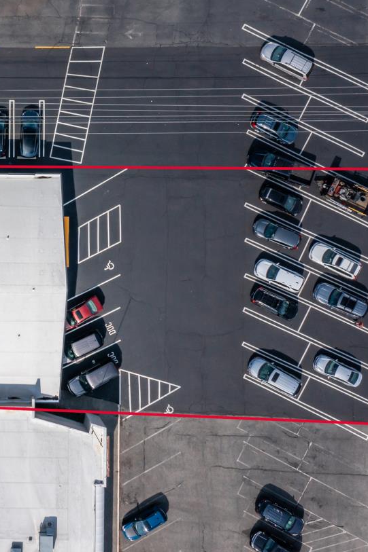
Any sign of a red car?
Yes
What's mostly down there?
paved ground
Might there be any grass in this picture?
No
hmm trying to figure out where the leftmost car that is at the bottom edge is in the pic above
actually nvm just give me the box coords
[121,504,170,538]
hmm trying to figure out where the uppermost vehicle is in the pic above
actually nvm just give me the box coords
[259,42,315,79]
